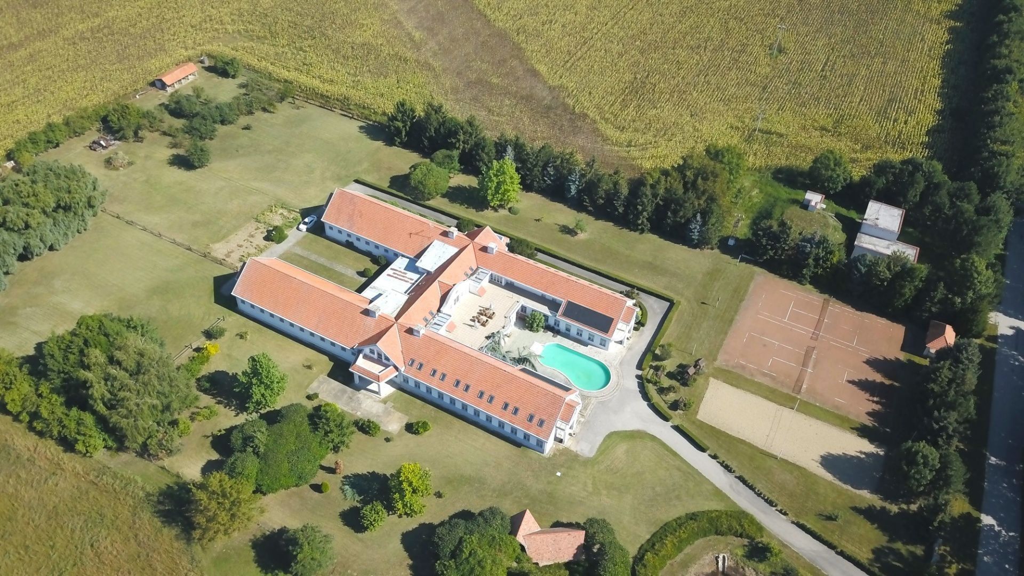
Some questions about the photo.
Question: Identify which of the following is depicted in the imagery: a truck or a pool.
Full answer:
Visible in the photo is a pool.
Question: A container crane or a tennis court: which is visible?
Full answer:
The image shows a tennis court.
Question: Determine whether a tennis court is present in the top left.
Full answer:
No, there is no tennis court in the top left.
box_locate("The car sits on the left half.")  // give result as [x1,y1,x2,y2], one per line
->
[298,214,317,228]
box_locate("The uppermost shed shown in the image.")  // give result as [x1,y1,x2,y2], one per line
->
[155,62,201,94]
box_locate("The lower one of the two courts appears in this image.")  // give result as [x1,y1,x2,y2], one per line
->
[697,378,887,499]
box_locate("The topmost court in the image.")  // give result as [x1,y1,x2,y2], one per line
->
[722,274,907,425]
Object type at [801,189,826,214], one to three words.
building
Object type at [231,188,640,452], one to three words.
building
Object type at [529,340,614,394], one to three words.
swimming pool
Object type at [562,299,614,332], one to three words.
solar panel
